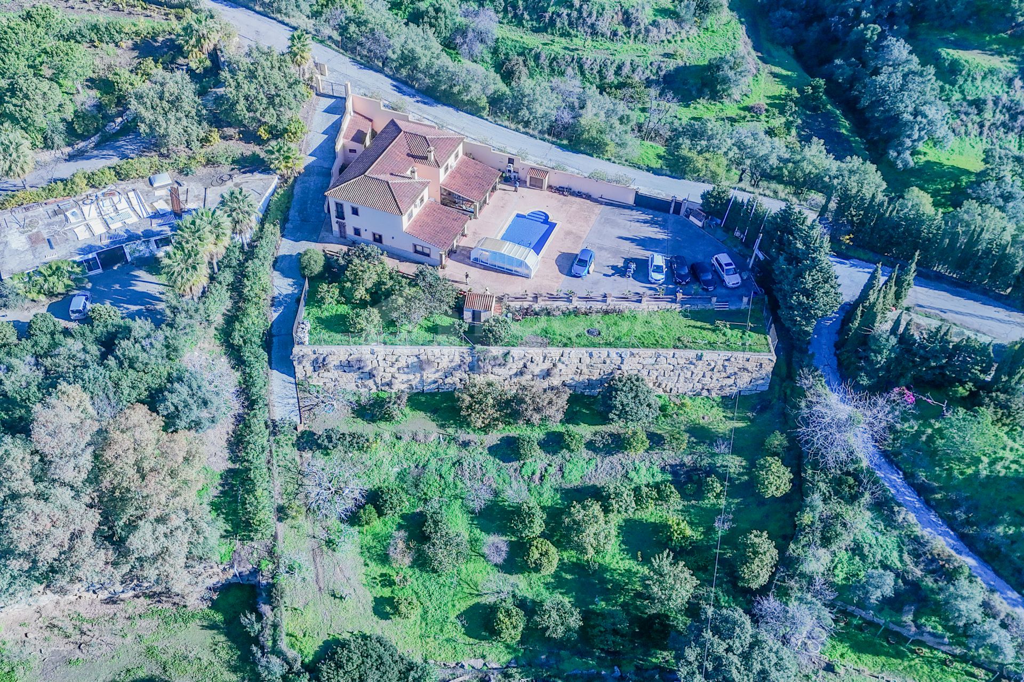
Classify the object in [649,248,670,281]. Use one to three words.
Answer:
car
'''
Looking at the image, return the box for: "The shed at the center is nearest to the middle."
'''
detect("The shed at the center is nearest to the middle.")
[462,281,500,322]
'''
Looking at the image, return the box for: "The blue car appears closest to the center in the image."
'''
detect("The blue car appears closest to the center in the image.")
[573,244,596,274]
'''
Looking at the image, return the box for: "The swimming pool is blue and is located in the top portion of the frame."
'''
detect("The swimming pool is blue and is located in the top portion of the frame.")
[483,210,560,277]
